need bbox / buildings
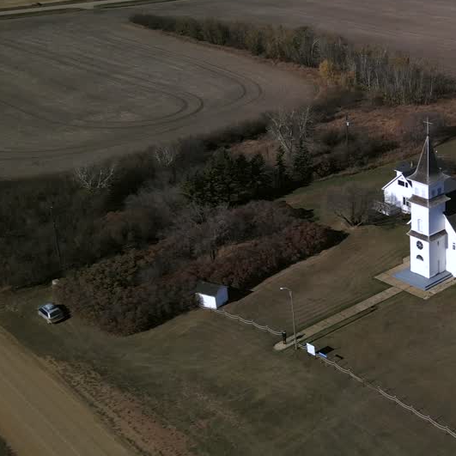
[393,111,456,290]
[197,281,231,310]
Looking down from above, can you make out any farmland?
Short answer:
Yes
